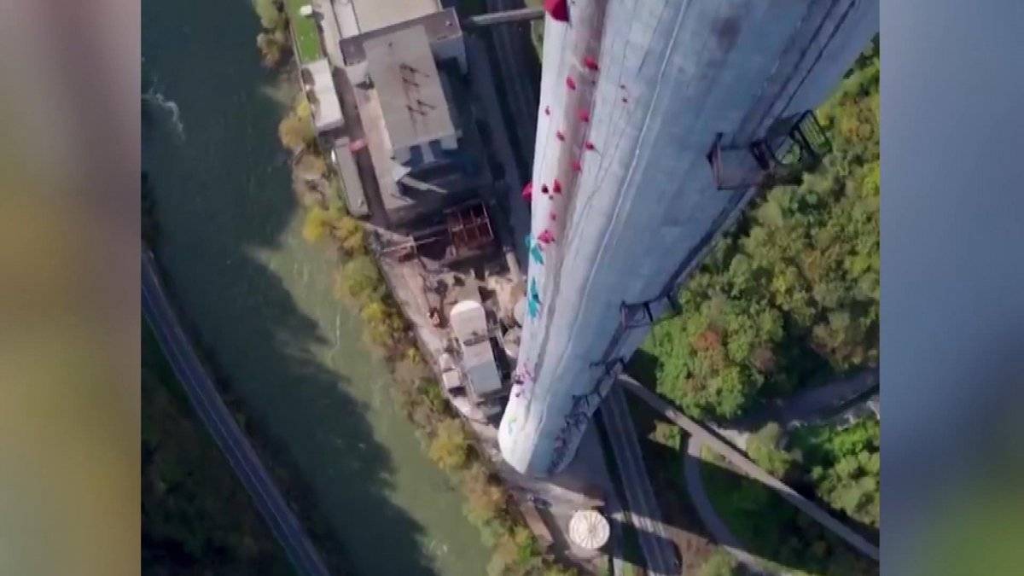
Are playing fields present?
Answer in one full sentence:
No, I can see no playing field in this picture.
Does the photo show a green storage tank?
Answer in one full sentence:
No, the frame has no green storage tank in it.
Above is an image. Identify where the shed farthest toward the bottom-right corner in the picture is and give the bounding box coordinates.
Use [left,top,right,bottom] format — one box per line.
[521,497,555,549]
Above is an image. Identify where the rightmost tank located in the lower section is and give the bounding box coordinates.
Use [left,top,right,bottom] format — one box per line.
[568,509,609,550]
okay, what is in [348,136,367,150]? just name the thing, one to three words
vehicle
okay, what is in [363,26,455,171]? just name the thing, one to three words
building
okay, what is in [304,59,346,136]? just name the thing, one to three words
building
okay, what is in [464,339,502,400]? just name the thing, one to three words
house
